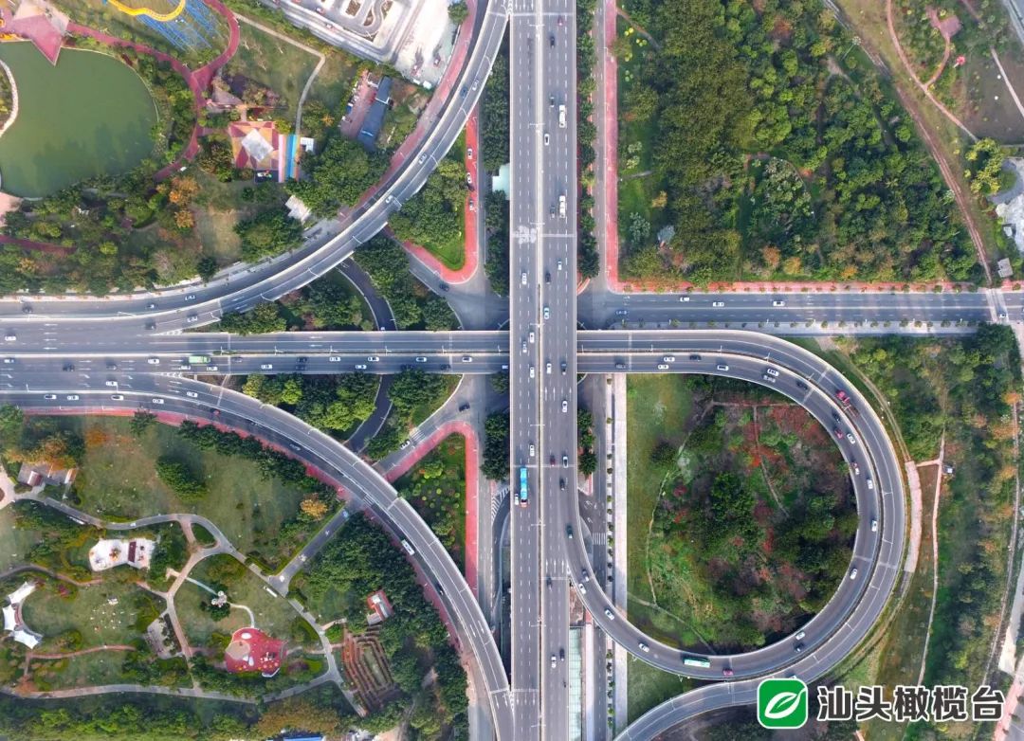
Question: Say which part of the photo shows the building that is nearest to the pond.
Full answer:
Look in the top left portion of the view to spot the building that is nearest to the pond.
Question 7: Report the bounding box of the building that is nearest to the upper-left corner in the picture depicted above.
[207,89,245,112]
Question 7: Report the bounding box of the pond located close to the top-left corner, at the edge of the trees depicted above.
[0,39,160,196]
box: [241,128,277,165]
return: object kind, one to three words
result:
building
